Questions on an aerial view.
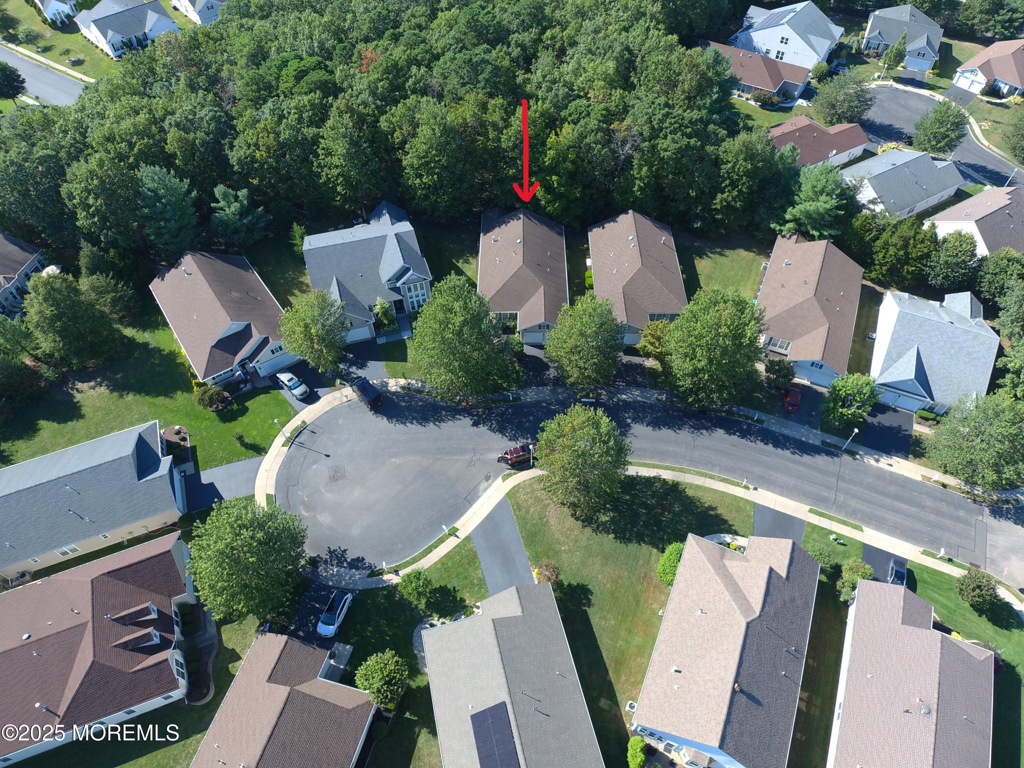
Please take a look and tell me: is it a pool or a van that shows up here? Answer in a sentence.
It is a van that can be seen here.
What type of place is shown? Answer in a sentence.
The picture captures a residential area.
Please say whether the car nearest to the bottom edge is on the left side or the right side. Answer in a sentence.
It is on the left.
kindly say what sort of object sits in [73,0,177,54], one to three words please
house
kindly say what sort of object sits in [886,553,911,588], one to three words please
car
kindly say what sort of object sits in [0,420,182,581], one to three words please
house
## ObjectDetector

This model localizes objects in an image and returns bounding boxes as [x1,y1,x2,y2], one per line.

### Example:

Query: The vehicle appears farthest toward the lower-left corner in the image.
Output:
[317,588,352,637]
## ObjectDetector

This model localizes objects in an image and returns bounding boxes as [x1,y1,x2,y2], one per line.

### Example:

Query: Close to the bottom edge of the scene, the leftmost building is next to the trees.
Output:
[0,532,193,768]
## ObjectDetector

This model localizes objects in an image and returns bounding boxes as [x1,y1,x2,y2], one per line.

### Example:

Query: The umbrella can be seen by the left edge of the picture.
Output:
[44,265,64,282]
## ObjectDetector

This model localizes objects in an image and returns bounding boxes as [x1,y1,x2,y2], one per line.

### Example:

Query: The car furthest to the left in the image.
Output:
[277,370,308,399]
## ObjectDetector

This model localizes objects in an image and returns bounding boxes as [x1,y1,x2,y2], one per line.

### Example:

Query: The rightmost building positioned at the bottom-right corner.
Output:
[826,579,995,768]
